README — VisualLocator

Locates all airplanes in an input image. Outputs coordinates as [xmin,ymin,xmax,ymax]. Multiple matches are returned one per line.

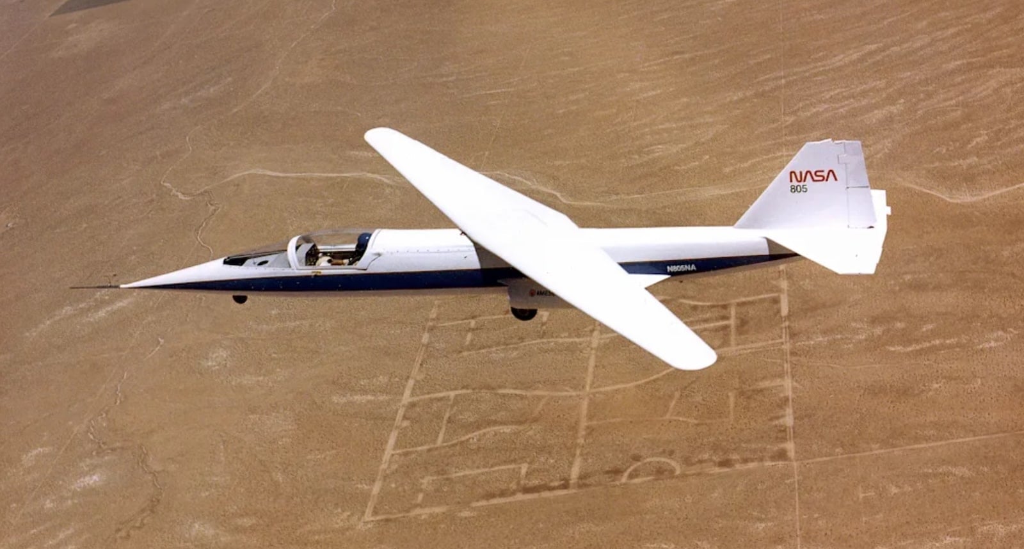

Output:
[70,127,890,370]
